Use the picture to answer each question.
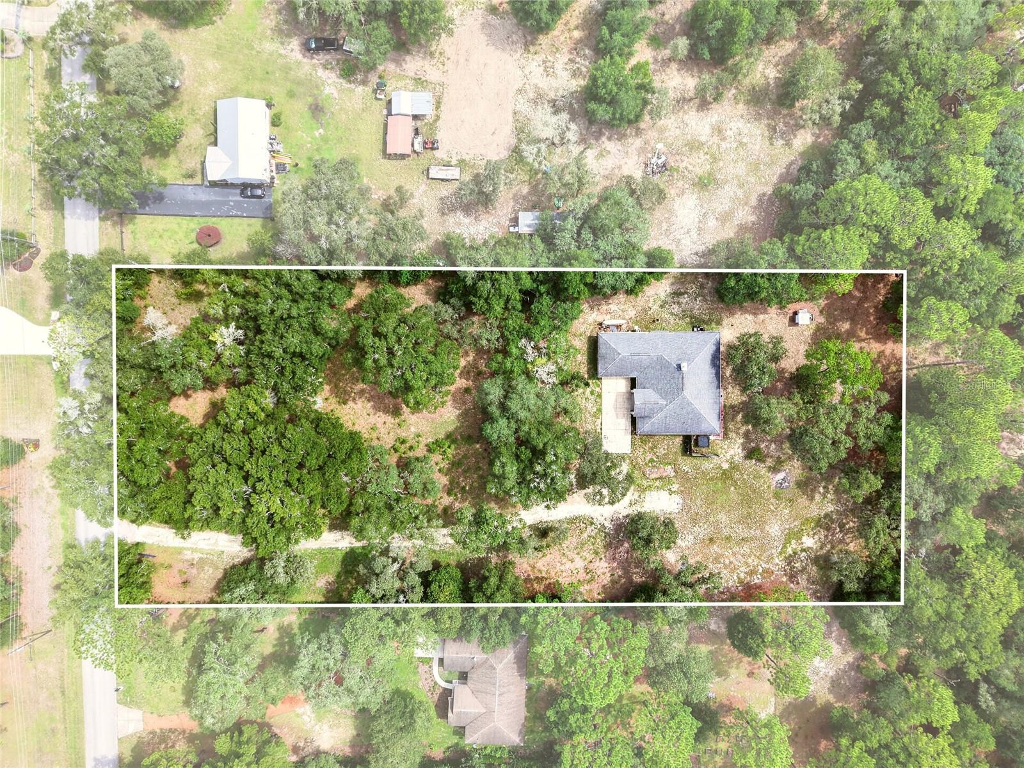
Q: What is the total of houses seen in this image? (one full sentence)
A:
My tally gives 3 houses in this view.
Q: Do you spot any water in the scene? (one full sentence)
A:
No, there is no water in the image.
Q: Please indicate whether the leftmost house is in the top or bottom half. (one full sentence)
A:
The top half of the photo is where the leftmost house is.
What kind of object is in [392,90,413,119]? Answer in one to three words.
shed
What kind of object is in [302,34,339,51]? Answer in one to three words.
vehicle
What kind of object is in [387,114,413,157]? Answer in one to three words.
shed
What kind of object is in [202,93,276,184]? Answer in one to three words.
house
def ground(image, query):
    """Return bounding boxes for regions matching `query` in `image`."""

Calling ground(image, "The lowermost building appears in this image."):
[442,632,526,745]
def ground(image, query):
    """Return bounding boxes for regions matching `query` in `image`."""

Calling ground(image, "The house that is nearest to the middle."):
[598,330,722,435]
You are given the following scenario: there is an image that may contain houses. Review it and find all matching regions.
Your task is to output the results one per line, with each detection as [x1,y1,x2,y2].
[202,93,276,184]
[442,632,526,745]
[598,330,722,435]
